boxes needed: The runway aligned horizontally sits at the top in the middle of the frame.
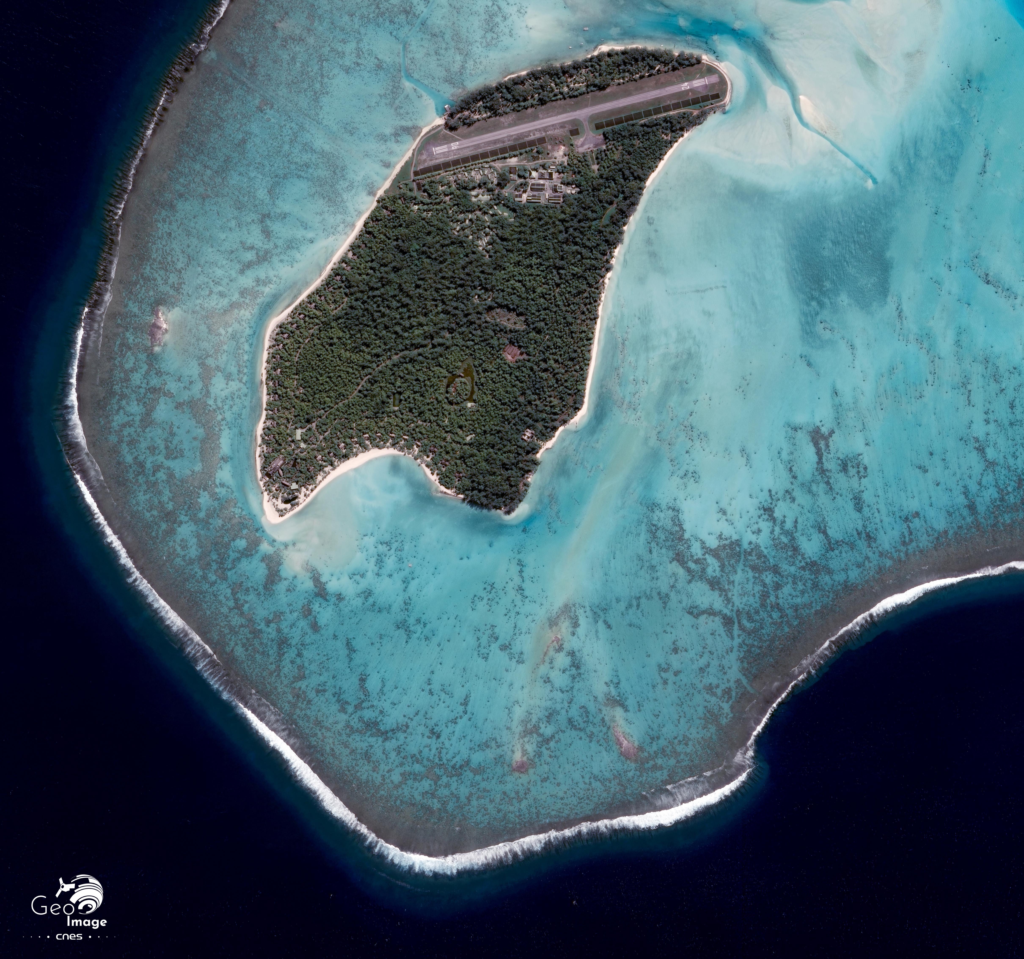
[432,74,719,155]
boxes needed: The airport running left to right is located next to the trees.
[414,62,727,174]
